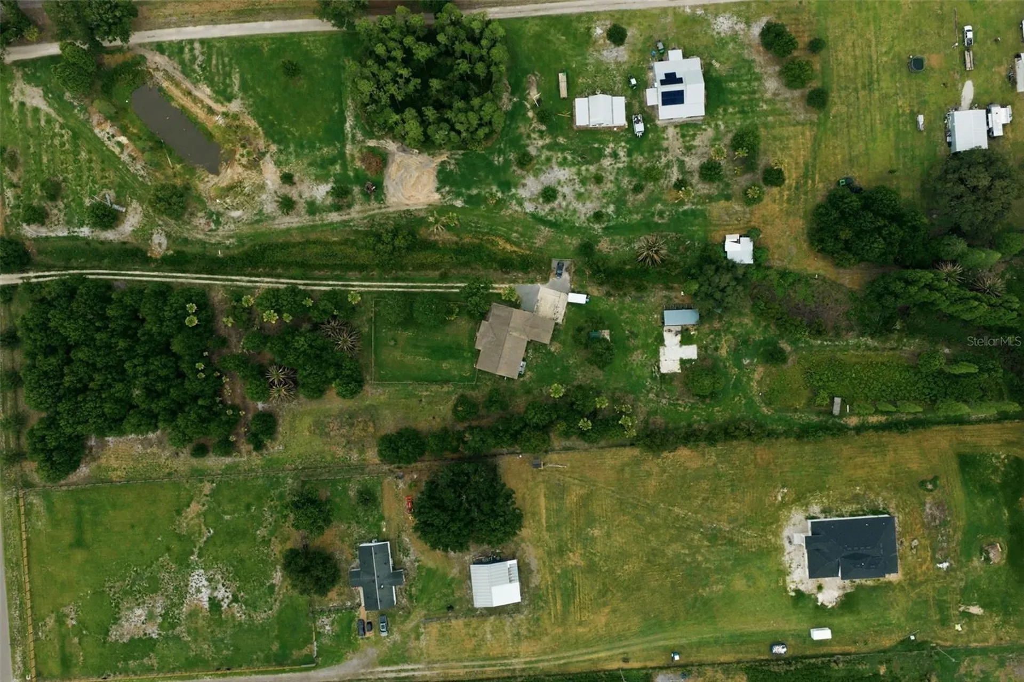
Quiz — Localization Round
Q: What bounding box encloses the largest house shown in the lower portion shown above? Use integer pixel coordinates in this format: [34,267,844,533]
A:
[802,514,898,580]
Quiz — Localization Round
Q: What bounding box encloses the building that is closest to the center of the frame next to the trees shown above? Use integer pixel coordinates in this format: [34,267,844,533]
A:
[476,303,555,379]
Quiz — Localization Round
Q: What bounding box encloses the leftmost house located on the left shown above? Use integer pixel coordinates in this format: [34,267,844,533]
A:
[349,541,405,611]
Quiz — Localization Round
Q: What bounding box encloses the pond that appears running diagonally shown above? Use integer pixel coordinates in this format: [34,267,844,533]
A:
[135,85,222,176]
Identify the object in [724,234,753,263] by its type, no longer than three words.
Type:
shed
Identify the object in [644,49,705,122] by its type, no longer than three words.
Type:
house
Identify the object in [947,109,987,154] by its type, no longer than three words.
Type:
barn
